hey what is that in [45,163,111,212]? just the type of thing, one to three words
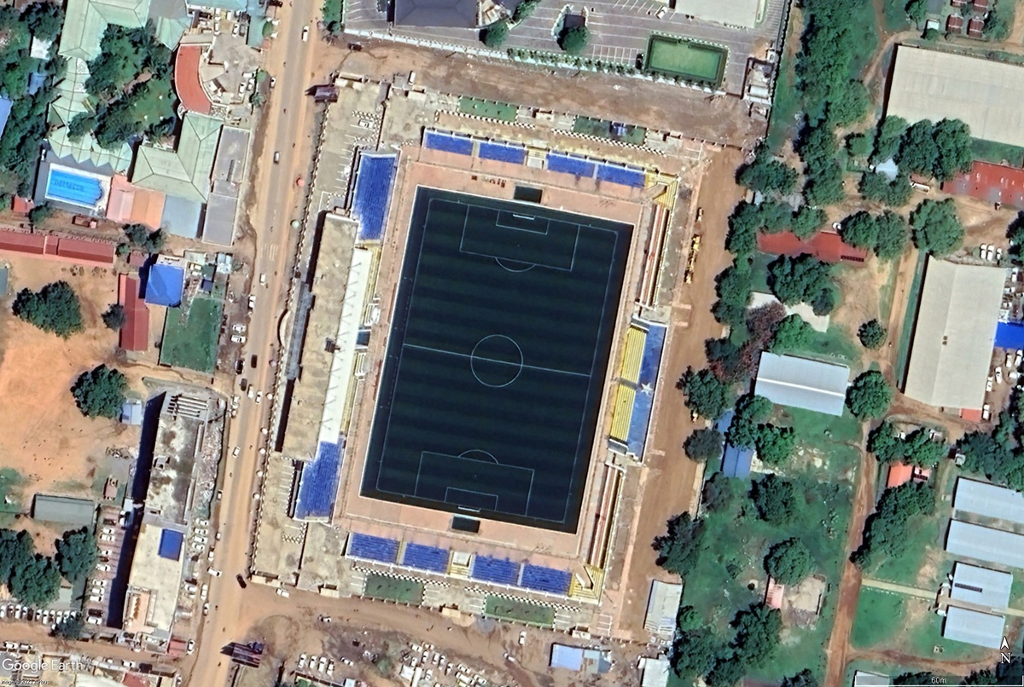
swimming pool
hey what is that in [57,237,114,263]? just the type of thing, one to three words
building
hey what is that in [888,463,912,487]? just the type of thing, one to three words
house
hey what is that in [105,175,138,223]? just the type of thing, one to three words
shed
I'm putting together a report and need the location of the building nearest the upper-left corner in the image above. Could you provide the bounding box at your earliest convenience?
[30,35,53,58]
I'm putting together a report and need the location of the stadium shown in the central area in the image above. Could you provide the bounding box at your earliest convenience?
[253,82,706,641]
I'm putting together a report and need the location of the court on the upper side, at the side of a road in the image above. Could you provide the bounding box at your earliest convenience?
[642,34,729,90]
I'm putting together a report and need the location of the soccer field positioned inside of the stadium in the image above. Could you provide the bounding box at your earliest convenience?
[361,187,633,533]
